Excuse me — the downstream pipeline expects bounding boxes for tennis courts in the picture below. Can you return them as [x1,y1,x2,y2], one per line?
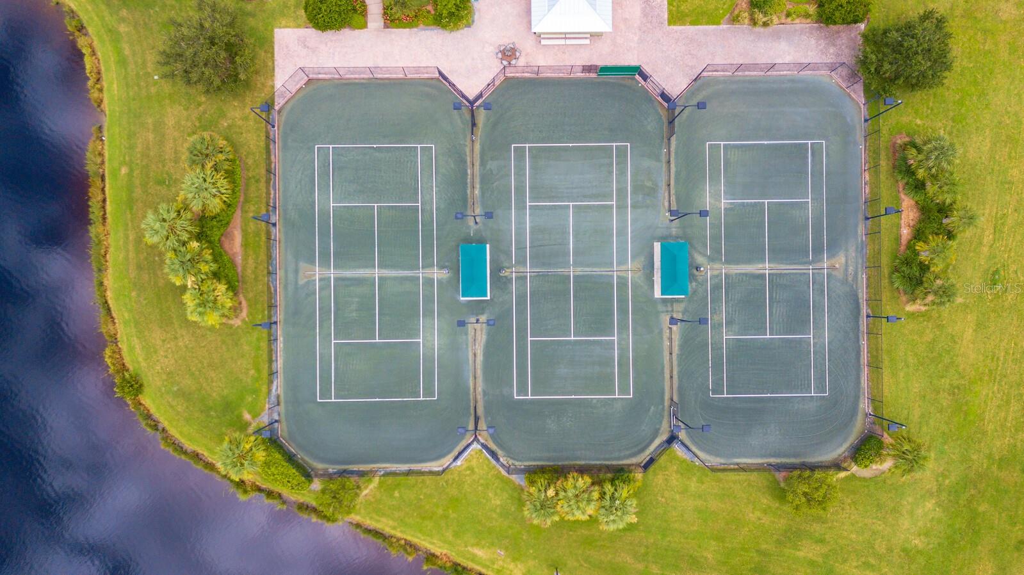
[670,74,868,464]
[474,76,672,466]
[279,79,476,470]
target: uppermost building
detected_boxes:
[531,0,612,36]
